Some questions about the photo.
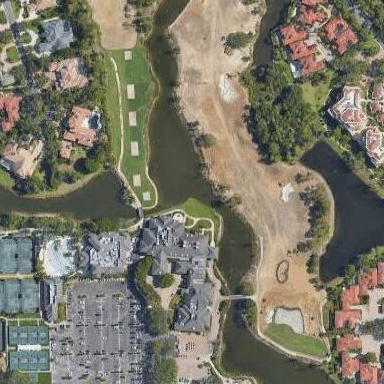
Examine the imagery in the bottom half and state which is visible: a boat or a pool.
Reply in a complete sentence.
Looking in the bottom half, you will find a pool.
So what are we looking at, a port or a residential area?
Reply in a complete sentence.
This looks like a residential area.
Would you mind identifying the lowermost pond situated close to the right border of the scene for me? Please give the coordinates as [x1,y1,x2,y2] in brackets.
[303,141,384,283]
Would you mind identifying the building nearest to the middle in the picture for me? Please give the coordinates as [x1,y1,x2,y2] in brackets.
[134,216,215,277]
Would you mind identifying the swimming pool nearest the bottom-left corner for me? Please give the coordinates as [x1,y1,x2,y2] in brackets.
[40,235,76,277]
